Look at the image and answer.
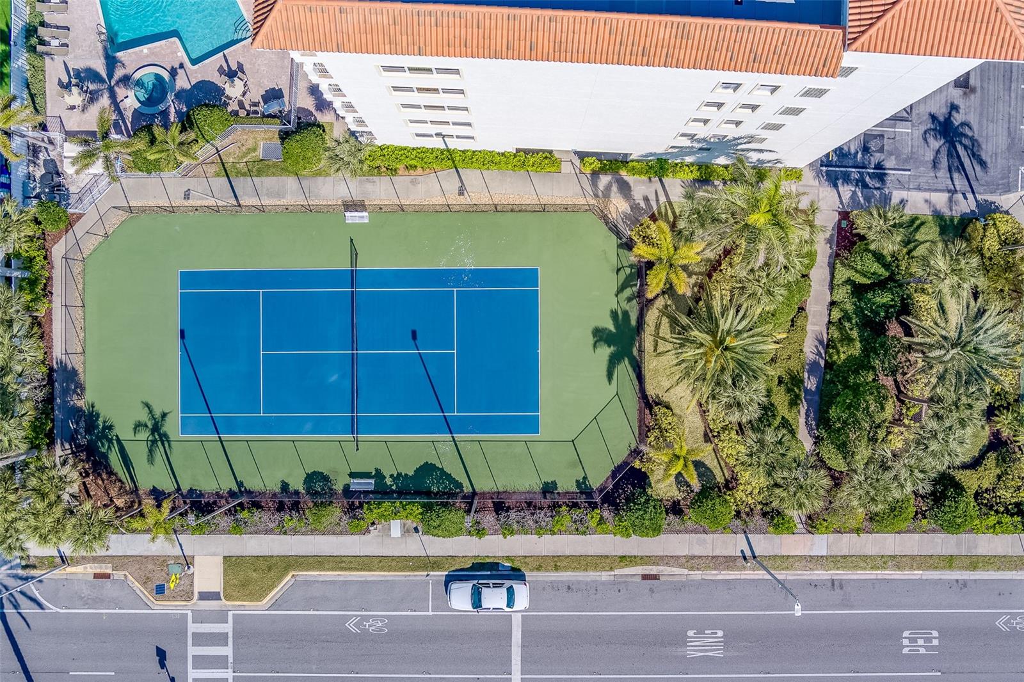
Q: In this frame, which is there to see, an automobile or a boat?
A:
automobile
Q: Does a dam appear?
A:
No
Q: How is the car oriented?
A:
horizontally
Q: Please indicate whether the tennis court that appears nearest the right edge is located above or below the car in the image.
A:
above it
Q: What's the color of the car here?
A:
white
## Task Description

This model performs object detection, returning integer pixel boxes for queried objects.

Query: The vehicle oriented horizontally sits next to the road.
[447,577,530,614]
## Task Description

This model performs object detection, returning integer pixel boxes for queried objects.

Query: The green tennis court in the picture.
[85,212,637,491]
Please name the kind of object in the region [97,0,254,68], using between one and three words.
swimming pool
